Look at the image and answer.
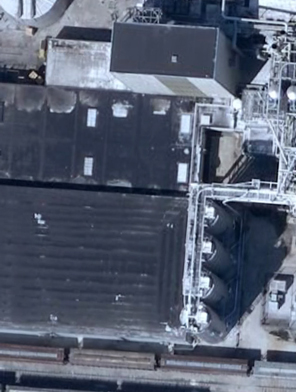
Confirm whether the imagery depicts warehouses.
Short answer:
Yes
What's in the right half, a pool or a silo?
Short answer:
silo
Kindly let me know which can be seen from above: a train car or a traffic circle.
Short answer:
train car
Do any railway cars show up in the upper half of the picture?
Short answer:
No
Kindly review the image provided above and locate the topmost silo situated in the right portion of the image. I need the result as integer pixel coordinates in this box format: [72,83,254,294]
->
[198,203,237,240]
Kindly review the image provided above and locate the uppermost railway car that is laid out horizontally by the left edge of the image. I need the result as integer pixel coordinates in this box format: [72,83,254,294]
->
[0,343,67,364]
